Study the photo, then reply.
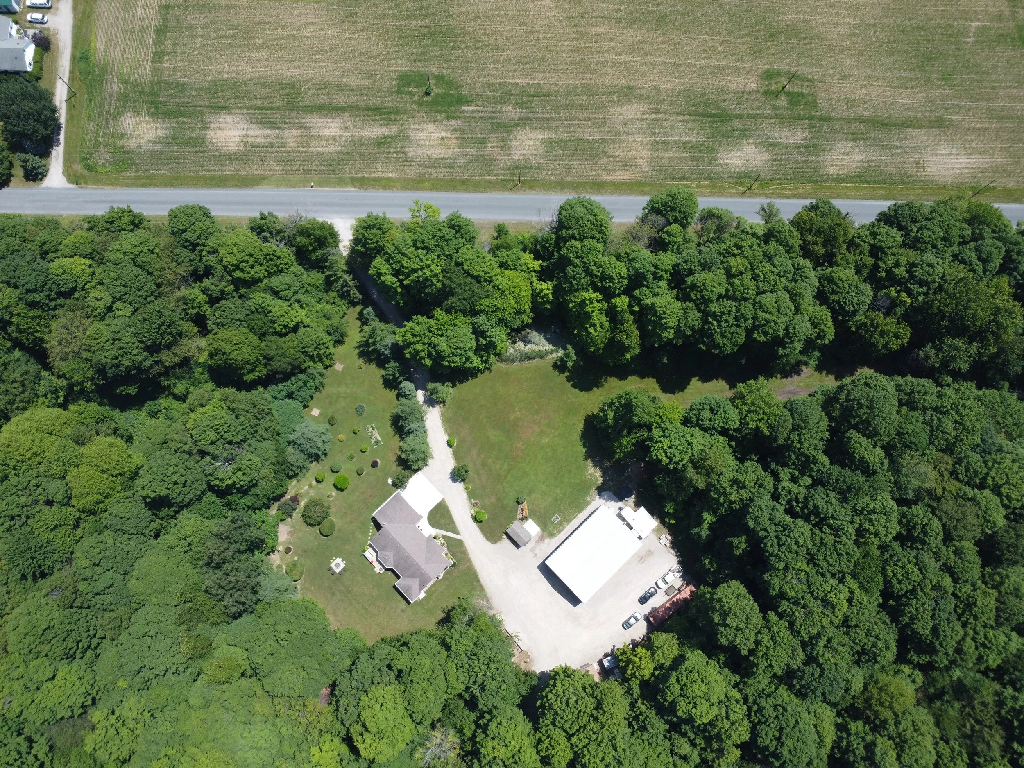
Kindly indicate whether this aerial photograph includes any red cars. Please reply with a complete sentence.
No, the frame has no red car in it.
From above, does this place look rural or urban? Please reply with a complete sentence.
This place is rural.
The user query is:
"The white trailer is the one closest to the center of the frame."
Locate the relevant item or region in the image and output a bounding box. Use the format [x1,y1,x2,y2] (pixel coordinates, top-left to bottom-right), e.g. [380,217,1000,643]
[618,505,658,539]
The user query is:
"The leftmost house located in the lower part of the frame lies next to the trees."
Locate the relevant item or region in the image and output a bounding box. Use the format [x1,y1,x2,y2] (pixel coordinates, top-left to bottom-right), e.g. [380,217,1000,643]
[370,491,454,603]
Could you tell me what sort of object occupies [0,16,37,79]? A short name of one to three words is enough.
house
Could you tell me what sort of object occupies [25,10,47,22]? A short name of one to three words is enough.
vehicle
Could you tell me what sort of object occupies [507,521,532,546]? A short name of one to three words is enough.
shed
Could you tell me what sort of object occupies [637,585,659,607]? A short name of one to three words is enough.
car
